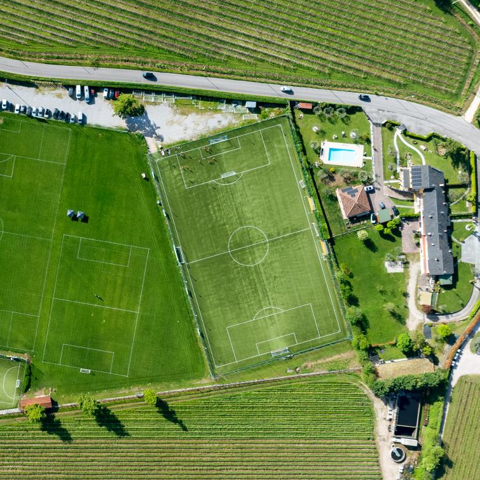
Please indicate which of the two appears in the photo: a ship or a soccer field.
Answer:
soccer field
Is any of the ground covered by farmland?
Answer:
Yes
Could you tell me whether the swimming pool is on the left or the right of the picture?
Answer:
right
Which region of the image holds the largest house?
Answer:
right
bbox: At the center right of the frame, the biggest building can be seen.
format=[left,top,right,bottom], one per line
[399,166,454,285]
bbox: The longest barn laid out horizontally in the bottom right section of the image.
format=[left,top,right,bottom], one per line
[373,359,434,376]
